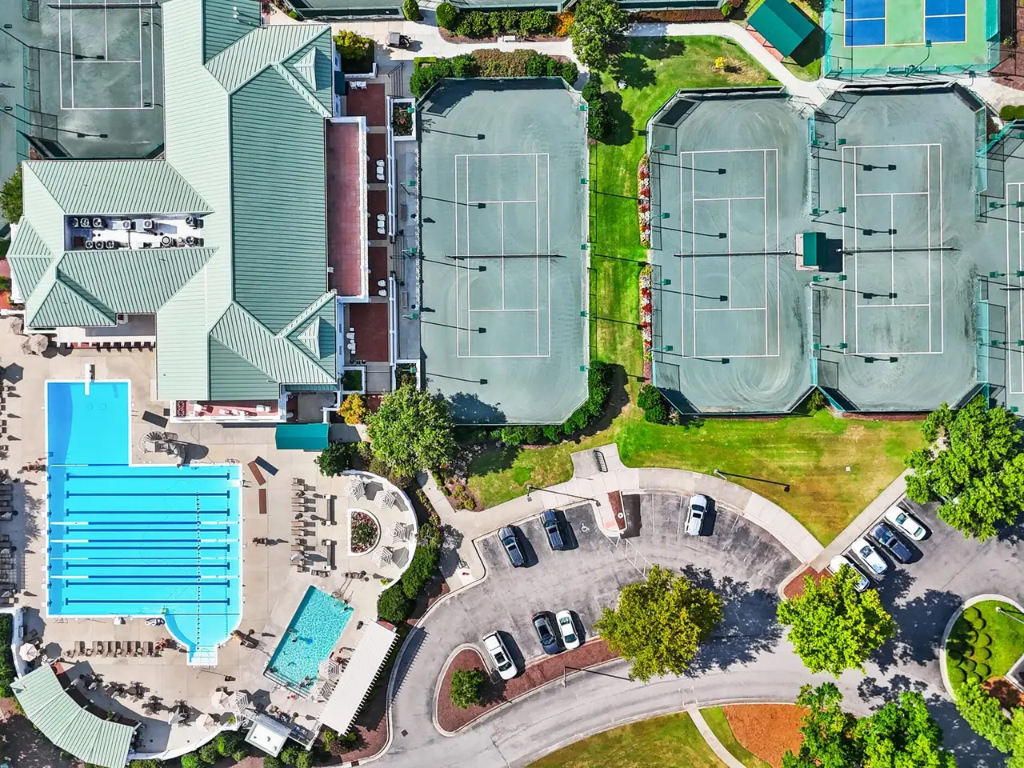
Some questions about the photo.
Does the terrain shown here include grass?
Yes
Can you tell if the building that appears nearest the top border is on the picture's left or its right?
right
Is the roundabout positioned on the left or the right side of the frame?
right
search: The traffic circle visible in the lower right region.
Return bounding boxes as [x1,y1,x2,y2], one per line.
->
[941,596,1024,703]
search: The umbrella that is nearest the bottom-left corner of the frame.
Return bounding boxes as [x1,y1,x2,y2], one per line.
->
[21,641,42,661]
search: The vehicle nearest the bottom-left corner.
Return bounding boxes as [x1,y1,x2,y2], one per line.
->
[486,631,515,675]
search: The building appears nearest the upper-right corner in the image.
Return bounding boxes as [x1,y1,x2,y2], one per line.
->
[746,0,815,63]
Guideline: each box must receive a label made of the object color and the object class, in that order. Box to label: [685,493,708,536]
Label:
white car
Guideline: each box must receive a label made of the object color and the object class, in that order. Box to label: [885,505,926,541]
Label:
white car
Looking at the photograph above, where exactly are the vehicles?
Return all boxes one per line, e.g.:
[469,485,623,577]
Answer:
[486,631,515,675]
[540,506,567,552]
[885,505,926,541]
[556,608,580,649]
[685,493,708,536]
[532,611,559,652]
[831,555,867,589]
[869,522,911,564]
[850,537,886,575]
[388,31,410,48]
[498,523,527,568]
